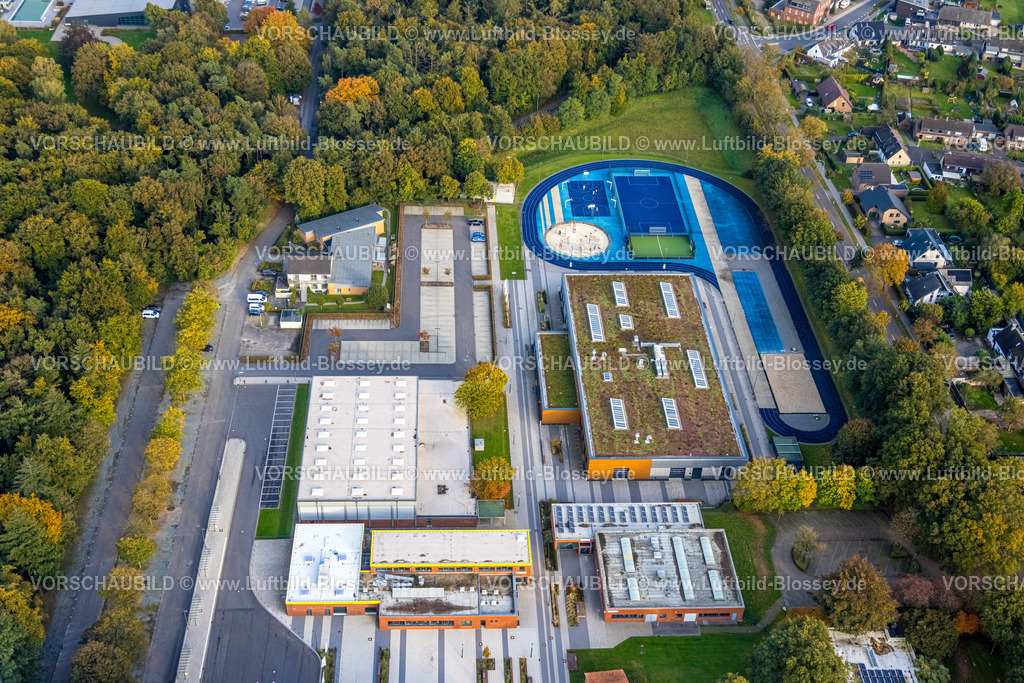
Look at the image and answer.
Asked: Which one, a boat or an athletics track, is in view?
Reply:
athletics track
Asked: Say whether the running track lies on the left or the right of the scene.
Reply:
right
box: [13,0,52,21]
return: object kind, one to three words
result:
swimming pool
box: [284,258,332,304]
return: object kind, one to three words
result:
house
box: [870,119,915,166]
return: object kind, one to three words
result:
house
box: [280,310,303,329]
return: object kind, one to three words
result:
building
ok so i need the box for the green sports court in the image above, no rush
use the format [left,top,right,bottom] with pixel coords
[631,236,694,258]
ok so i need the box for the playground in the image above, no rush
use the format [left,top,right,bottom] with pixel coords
[544,221,611,258]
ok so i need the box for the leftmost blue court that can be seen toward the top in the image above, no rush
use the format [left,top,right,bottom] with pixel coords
[568,181,611,216]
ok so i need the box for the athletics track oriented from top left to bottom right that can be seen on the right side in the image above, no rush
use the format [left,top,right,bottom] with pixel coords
[521,159,849,440]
